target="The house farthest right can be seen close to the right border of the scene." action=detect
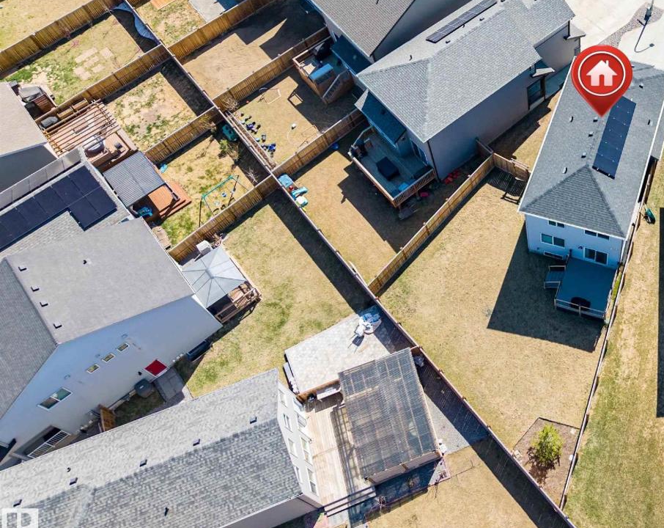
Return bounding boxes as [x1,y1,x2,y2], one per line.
[519,45,664,270]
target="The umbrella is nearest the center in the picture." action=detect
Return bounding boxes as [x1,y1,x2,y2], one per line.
[350,309,381,336]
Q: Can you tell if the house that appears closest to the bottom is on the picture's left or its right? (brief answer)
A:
left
